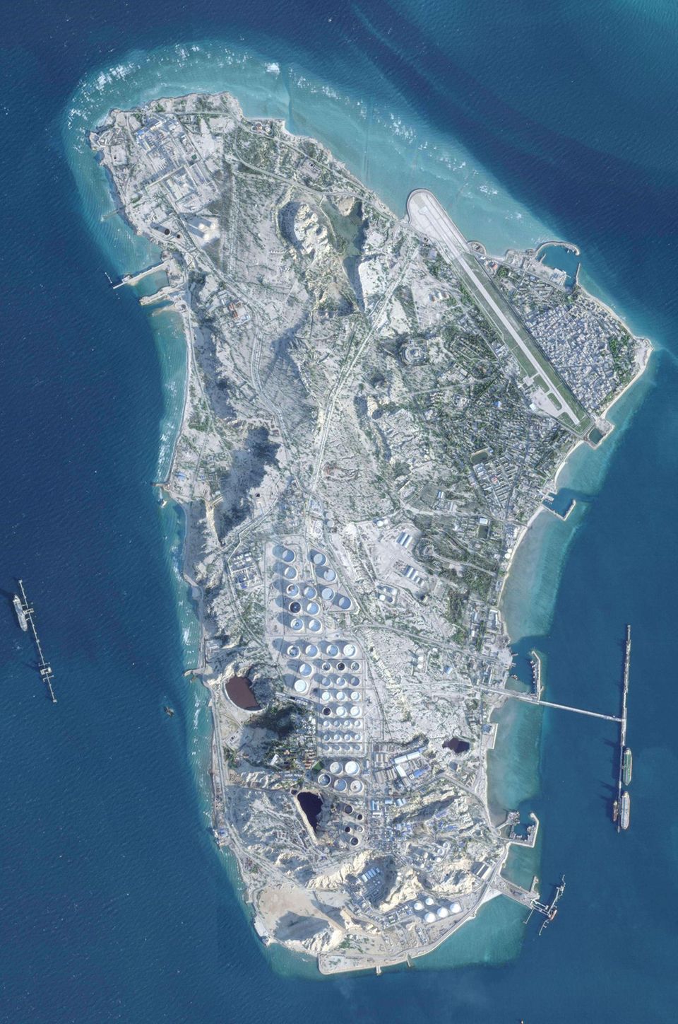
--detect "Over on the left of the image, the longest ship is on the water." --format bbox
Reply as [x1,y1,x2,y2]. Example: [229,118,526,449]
[12,595,26,631]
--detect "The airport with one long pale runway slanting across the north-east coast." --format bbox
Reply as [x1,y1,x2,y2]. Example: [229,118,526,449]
[408,190,591,432]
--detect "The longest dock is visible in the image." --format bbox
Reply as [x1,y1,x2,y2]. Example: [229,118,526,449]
[618,625,631,833]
